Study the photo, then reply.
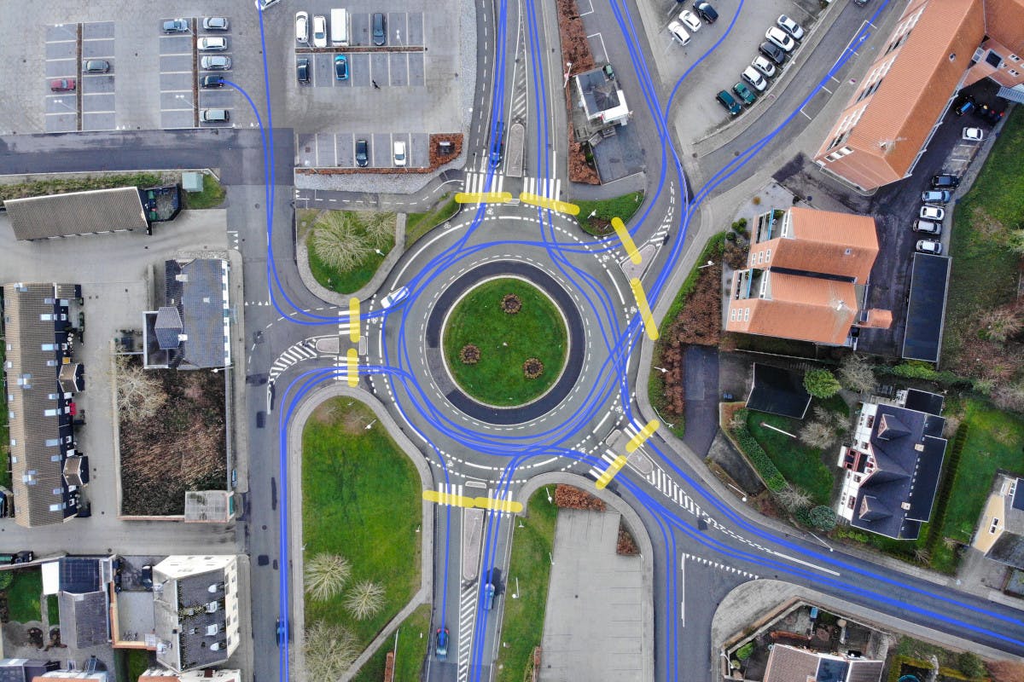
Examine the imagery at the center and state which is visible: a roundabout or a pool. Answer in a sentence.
The feature located at the center is a roundabout.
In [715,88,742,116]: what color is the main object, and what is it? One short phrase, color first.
blue car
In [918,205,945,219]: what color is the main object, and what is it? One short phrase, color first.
white car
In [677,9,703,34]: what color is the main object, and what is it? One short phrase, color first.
white car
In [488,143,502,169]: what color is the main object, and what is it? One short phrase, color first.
blue car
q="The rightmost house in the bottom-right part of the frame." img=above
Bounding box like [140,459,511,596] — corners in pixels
[967,475,1024,567]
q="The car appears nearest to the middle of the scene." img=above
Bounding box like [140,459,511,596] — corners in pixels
[381,286,409,308]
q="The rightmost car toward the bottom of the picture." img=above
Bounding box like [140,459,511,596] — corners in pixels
[483,583,496,611]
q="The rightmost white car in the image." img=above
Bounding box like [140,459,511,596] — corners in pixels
[961,126,984,141]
